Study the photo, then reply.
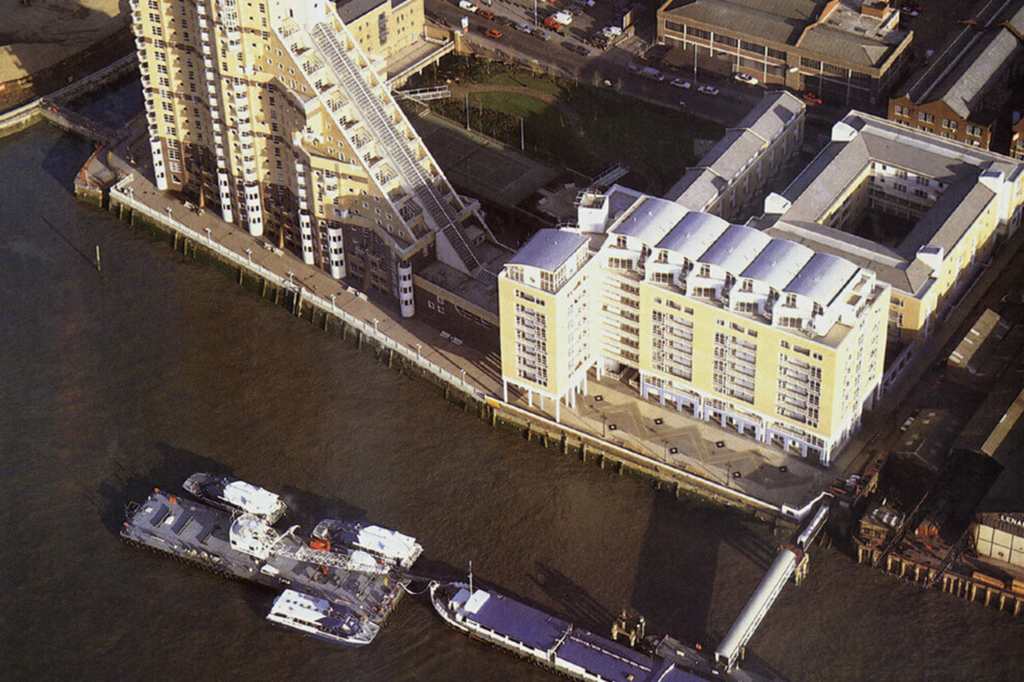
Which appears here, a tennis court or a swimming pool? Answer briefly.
tennis court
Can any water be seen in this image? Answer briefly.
Yes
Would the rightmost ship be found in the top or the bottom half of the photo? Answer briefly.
bottom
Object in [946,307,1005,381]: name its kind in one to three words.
shed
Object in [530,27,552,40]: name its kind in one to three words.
vehicle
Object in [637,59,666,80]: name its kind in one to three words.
vehicle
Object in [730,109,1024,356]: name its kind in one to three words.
building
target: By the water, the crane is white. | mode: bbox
[229,509,389,576]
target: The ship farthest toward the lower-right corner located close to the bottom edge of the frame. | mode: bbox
[424,554,726,682]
